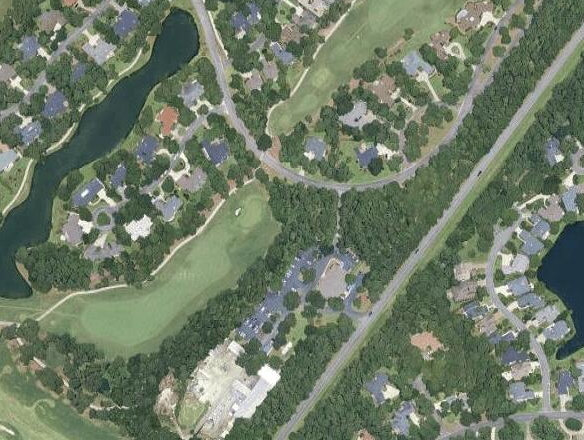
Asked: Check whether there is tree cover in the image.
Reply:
Yes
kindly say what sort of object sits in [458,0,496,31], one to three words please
house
